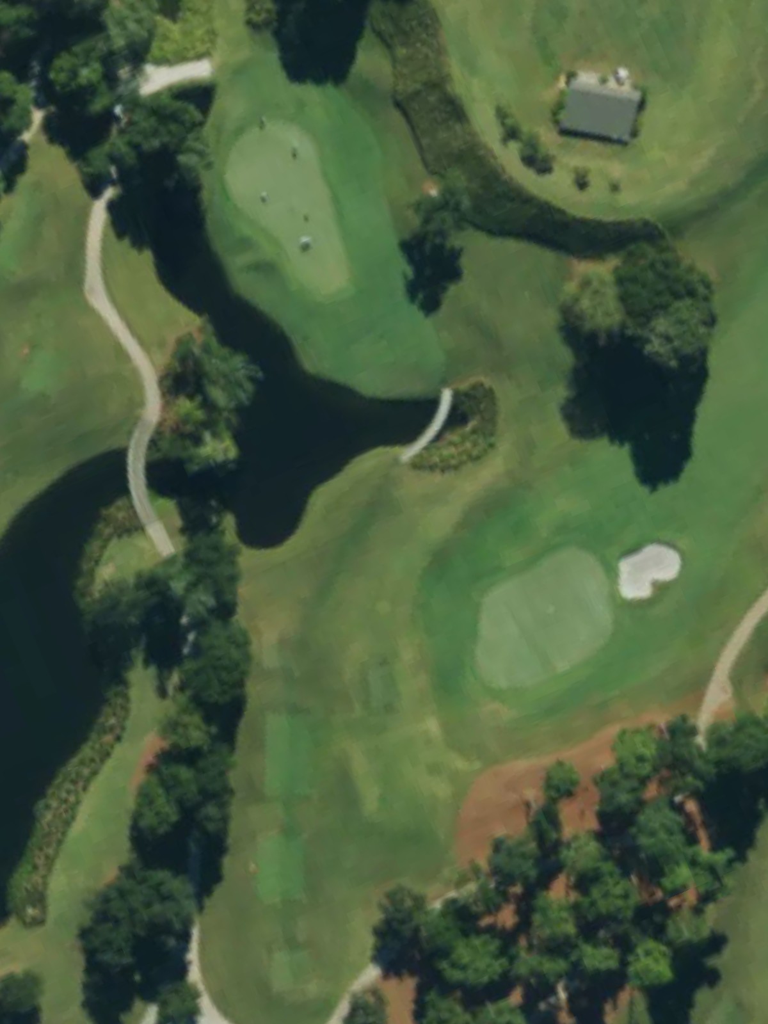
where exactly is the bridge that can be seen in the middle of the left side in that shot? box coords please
[127,413,163,533]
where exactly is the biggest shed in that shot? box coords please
[562,65,641,140]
